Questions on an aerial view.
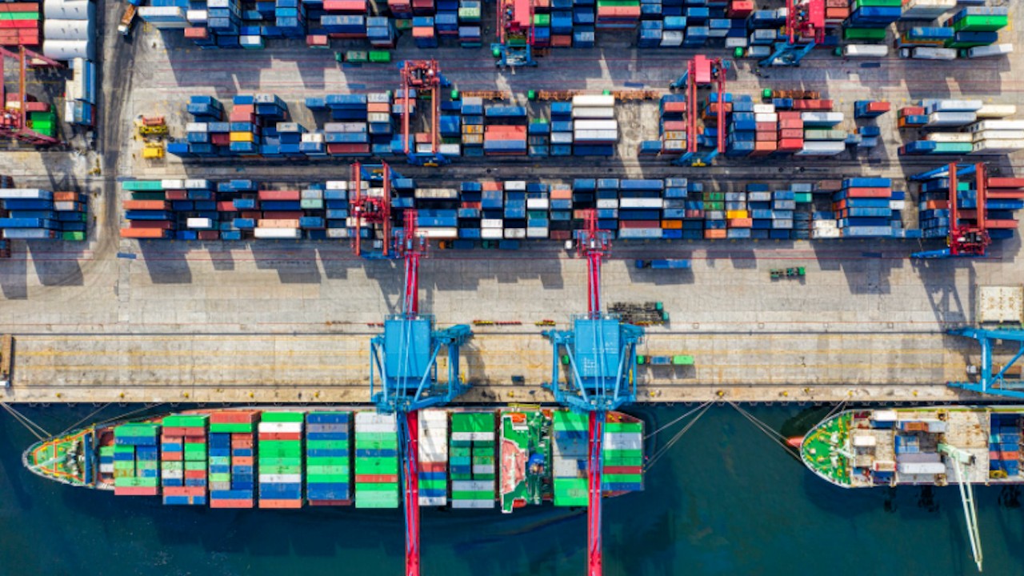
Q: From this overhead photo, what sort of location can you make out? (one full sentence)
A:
What you see here is a port.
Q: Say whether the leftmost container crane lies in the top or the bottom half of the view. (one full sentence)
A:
The leftmost container crane is in the top half of the image.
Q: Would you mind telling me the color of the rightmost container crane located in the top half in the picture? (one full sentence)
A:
From above, the rightmost container crane located in the top half appears red.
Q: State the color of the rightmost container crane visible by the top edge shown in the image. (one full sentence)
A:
In this view, the rightmost container crane visible by the top edge is red.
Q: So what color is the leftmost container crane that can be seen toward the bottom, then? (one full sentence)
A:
From above, the leftmost container crane that can be seen toward the bottom appears blue.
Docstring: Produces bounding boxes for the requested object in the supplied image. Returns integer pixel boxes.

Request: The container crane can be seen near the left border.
[0,46,75,145]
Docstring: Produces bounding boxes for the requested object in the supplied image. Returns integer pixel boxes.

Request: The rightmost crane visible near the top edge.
[757,0,826,69]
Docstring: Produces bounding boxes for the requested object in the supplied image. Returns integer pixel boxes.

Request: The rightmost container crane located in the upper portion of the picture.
[904,163,987,264]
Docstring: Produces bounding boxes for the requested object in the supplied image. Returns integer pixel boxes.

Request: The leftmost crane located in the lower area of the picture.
[367,210,476,576]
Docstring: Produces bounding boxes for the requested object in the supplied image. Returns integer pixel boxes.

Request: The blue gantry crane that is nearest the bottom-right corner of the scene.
[948,326,1024,403]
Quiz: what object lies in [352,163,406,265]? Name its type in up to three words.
container crane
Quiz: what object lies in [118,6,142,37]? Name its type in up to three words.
truck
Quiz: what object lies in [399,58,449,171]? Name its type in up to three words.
container crane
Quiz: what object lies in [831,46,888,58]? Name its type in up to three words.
vehicle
